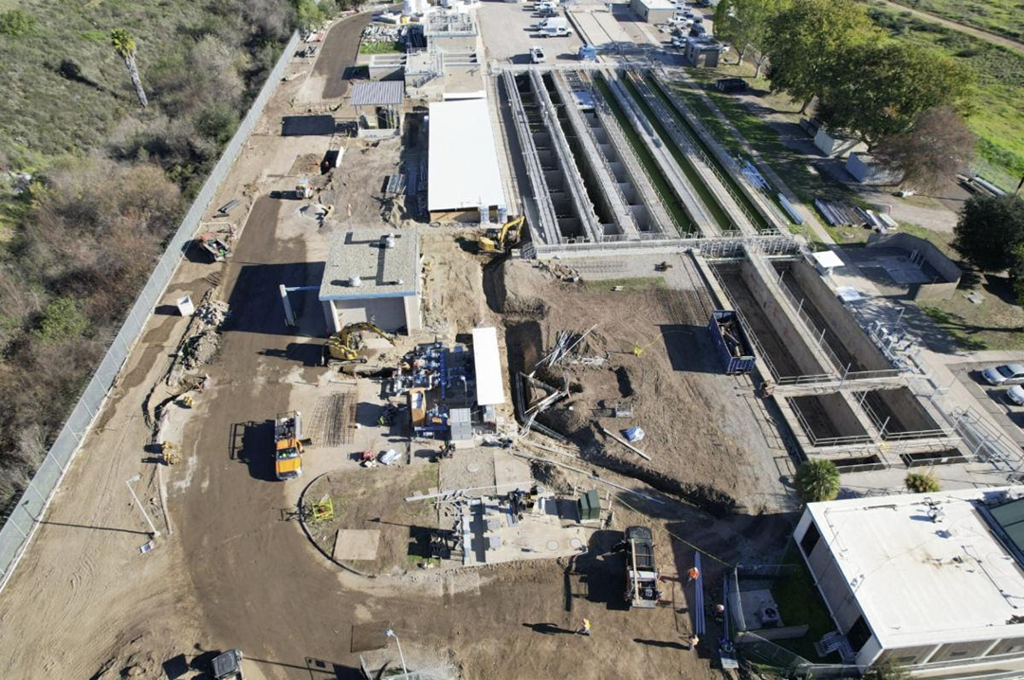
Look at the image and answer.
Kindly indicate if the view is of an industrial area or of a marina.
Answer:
industrial area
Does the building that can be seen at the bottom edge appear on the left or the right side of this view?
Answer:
right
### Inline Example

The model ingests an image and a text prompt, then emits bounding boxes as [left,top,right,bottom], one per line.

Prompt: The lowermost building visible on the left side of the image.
[320,227,422,341]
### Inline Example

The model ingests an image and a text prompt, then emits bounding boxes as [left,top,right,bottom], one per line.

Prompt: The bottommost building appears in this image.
[794,485,1024,680]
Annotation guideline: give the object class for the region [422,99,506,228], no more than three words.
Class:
building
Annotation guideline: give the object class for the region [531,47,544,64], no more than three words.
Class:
vehicle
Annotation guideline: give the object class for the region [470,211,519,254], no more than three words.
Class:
work vehicle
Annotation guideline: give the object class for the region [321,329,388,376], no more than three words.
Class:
work vehicle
